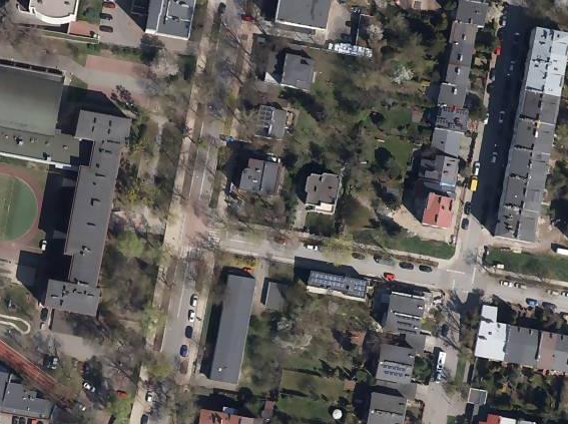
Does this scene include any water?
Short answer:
No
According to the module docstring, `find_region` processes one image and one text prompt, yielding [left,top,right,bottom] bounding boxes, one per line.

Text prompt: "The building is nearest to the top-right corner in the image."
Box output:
[527,28,568,67]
